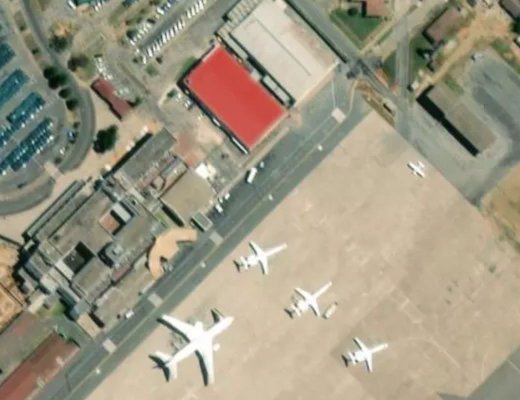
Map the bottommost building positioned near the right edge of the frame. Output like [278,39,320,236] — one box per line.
[443,102,497,152]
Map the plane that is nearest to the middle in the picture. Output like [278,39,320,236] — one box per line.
[242,241,287,274]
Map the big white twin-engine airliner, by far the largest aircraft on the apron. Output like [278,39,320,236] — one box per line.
[157,315,234,383]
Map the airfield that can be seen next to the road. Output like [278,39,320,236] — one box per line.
[27,96,520,400]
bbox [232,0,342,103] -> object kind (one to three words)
shed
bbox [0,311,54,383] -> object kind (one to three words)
building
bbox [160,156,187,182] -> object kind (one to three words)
house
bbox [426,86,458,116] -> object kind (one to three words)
hangar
